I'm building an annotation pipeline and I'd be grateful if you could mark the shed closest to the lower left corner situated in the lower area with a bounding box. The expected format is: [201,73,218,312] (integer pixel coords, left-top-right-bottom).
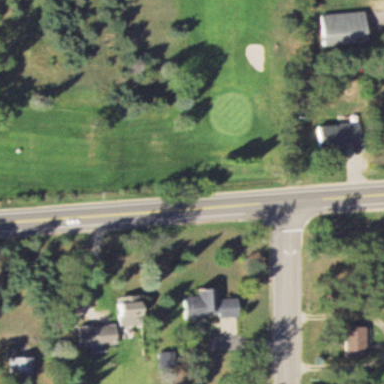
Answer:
[10,356,36,372]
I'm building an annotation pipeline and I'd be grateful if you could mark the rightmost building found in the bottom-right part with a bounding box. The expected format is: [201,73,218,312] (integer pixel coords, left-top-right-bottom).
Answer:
[346,326,368,352]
